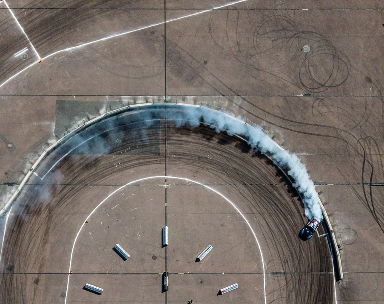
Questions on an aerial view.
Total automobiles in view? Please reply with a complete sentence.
The picture shows just 1 automobile.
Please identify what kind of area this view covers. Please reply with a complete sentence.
This looks like a sports ground.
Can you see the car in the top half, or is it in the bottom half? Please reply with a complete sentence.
The car is in the bottom half of the image.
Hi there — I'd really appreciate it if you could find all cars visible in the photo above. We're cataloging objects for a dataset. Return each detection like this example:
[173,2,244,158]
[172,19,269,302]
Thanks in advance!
[296,212,326,244]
